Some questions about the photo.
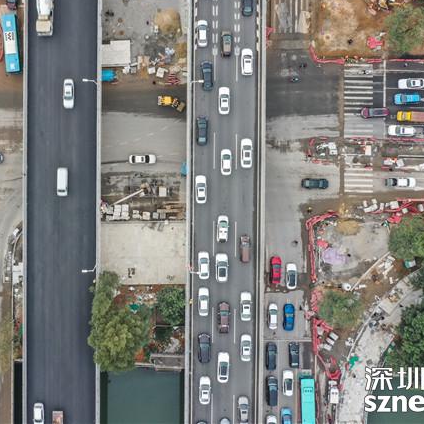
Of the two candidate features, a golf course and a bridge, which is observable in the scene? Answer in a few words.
bridge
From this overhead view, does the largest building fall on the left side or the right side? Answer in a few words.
left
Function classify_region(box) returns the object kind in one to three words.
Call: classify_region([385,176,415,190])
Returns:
vehicle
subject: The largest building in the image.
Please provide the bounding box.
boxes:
[102,45,131,69]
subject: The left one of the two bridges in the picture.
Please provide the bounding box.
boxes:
[23,0,102,424]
